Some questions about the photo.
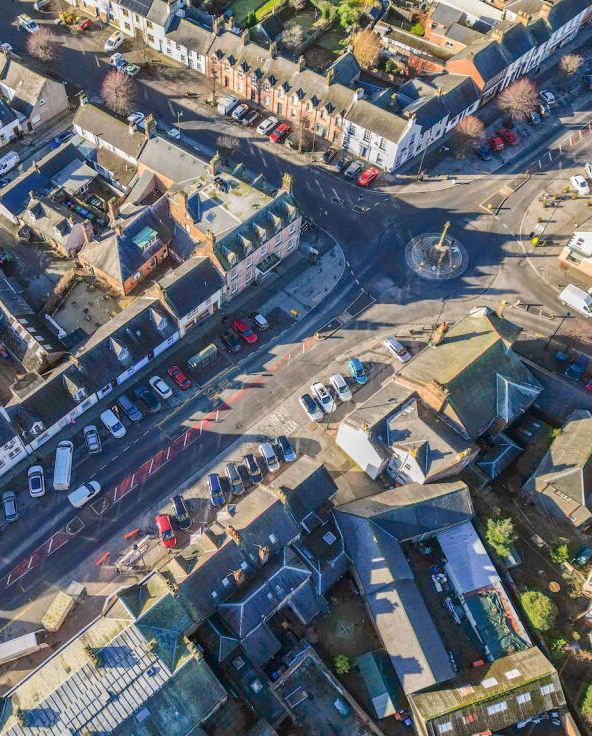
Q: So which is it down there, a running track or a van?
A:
van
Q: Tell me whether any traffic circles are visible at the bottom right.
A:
No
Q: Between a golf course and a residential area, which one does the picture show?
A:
residential area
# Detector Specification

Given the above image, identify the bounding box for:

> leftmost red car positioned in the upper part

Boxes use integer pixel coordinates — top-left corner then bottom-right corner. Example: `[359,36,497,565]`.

[77,19,94,33]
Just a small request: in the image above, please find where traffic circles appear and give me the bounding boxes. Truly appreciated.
[405,234,467,281]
